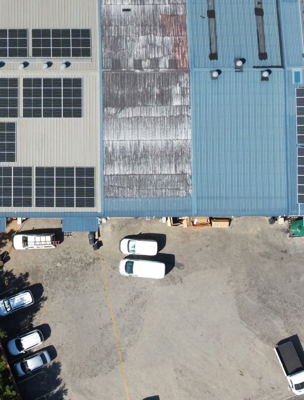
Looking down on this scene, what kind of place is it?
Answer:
industrial area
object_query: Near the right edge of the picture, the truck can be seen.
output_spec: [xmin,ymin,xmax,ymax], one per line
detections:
[273,341,304,396]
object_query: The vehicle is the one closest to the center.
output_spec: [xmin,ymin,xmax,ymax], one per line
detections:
[119,238,158,257]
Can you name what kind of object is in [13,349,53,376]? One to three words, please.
car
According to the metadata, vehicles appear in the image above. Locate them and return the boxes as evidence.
[119,238,158,257]
[0,290,35,316]
[117,259,166,279]
[13,349,53,376]
[7,330,46,356]
[12,233,56,252]
[273,341,304,396]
